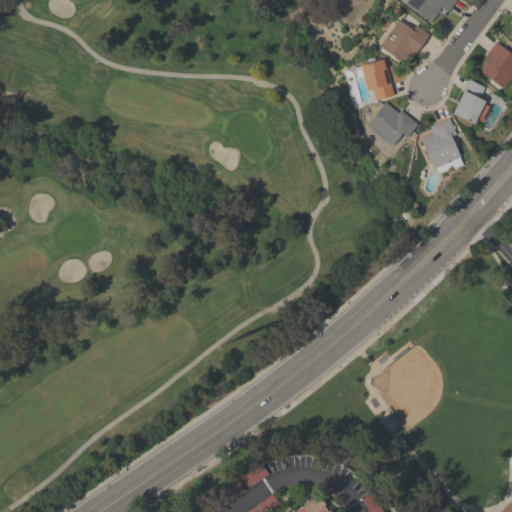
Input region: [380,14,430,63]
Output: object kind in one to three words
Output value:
house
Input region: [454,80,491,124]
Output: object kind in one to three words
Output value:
house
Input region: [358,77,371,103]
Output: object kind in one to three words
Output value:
swimming pool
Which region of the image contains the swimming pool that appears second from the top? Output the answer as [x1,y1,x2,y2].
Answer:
[484,104,502,128]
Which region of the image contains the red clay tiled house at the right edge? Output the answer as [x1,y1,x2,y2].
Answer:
[483,42,512,89]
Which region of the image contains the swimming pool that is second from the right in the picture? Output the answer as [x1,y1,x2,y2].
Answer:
[426,172,438,192]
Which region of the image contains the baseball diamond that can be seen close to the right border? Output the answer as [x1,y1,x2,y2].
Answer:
[372,296,512,500]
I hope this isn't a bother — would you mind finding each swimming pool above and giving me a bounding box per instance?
[484,104,502,128]
[426,172,438,192]
[358,77,371,103]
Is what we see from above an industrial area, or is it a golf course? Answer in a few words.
golf course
